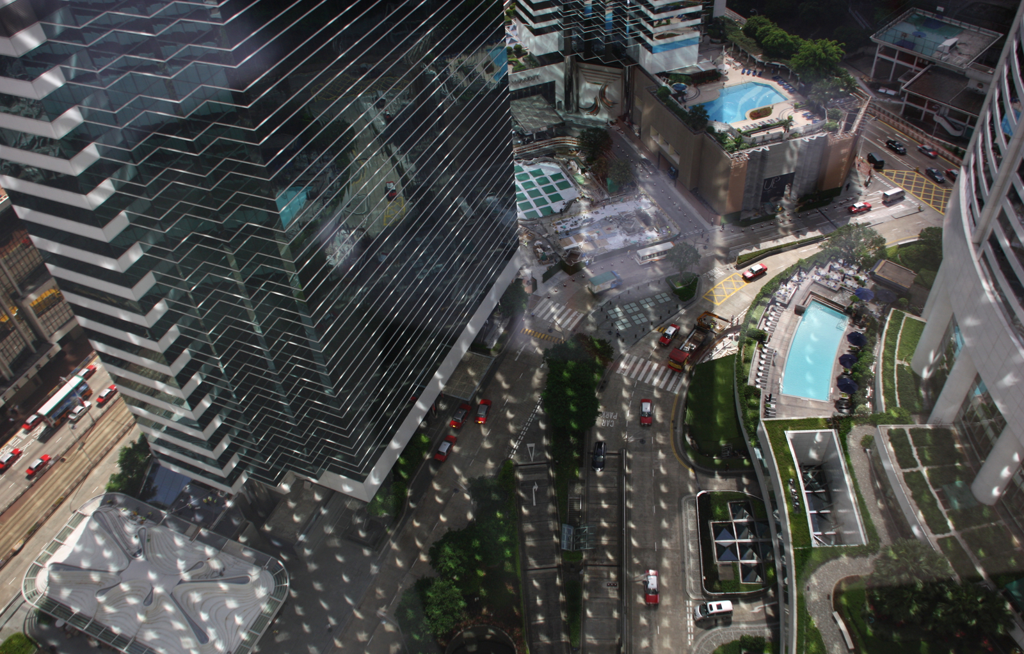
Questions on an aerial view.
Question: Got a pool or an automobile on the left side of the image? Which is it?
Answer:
automobile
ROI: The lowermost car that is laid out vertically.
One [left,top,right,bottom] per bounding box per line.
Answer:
[644,569,661,607]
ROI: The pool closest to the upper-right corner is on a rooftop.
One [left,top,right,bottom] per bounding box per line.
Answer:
[688,81,789,122]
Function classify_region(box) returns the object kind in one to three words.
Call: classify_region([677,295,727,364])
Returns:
truck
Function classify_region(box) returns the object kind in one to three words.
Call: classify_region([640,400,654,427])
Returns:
car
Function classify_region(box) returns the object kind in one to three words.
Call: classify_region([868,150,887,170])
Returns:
vehicle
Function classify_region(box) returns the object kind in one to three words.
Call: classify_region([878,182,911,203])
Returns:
vehicle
